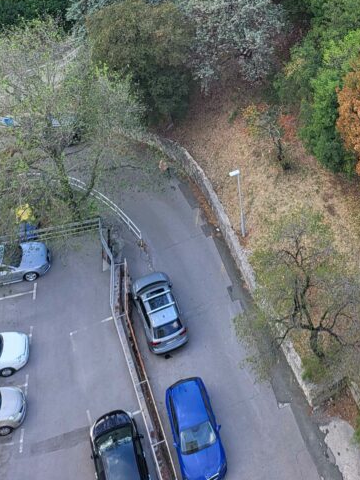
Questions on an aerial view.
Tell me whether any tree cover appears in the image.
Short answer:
Yes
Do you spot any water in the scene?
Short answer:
No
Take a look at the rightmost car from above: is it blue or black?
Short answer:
blue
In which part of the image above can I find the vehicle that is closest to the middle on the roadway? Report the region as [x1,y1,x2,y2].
[128,263,189,358]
